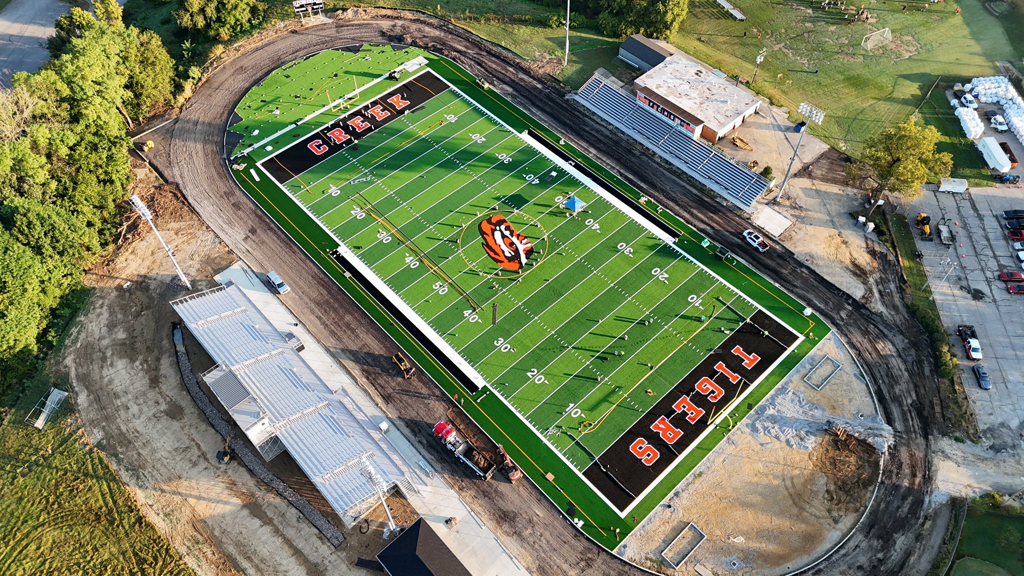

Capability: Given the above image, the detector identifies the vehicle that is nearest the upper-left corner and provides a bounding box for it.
[138,137,153,150]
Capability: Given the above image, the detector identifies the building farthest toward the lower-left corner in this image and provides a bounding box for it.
[375,517,473,576]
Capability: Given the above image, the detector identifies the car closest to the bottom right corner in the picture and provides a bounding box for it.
[973,366,994,391]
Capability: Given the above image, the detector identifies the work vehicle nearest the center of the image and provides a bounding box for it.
[390,351,417,382]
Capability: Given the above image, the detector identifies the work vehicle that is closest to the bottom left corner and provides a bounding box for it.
[216,437,237,471]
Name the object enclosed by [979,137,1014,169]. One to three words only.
trailer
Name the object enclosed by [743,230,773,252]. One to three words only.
vehicle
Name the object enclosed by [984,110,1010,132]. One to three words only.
truck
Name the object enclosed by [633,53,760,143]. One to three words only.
building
